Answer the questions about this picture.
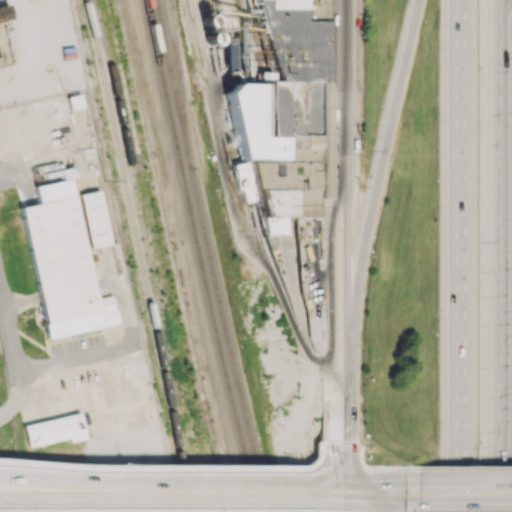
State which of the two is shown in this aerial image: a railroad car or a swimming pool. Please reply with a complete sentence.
The one in the frame is a railroad car.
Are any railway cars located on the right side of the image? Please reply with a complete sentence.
No, no railway car appears on the right side of the image.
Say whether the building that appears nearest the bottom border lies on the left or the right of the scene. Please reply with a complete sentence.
The building that appears nearest the bottom border sits on the left side.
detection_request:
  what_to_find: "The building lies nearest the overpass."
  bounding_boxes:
[24,413,89,449]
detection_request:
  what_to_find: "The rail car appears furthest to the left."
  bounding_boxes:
[82,0,98,42]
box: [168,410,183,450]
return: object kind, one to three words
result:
rail car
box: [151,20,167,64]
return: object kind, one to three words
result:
rail car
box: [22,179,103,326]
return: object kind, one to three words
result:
building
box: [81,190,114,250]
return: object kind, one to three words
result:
shed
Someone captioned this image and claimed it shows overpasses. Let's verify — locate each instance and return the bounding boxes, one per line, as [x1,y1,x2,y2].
[0,447,512,512]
